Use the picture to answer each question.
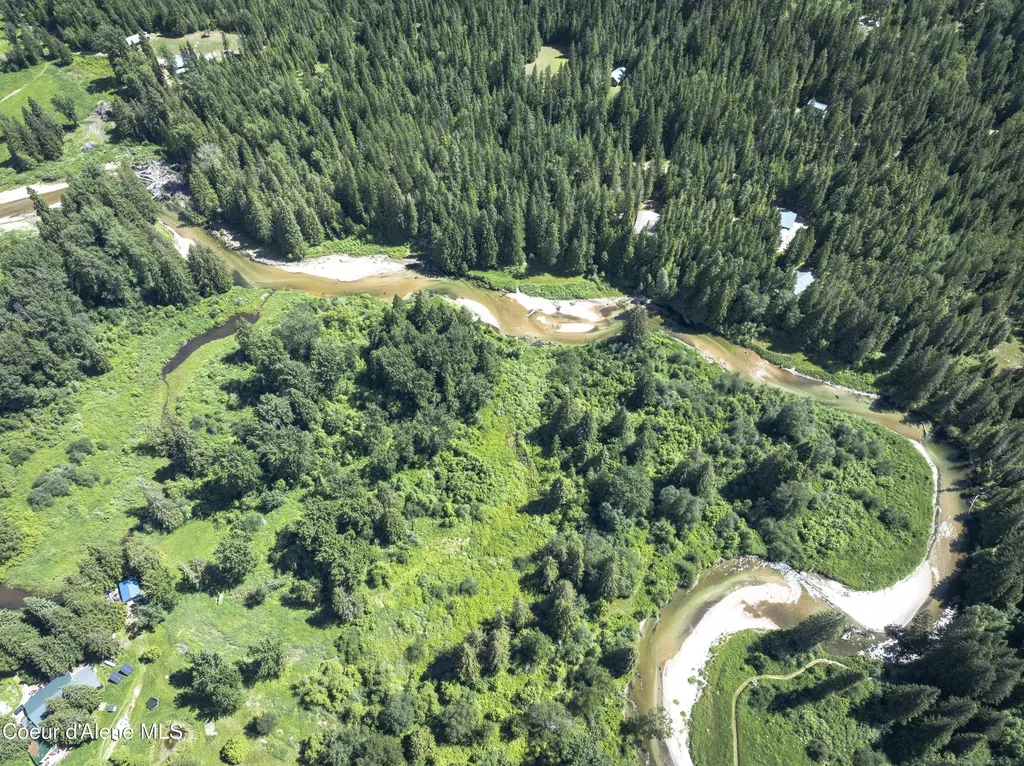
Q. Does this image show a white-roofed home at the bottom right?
No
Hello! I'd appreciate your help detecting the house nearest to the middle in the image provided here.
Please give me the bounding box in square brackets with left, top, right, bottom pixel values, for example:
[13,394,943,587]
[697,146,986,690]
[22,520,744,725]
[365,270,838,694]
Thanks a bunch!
[634,212,659,240]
